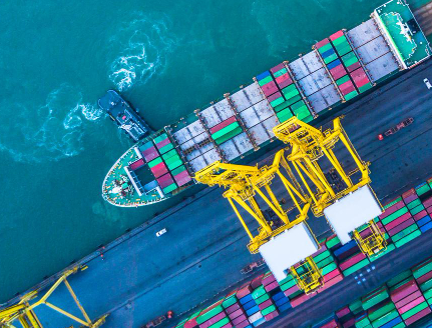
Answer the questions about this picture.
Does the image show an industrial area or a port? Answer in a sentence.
What you see here is a port.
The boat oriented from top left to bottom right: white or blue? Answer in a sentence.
The boat oriented from top left to bottom right is blue.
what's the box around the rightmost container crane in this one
[272,112,391,264]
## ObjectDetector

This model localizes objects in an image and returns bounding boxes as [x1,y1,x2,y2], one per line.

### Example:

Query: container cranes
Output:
[0,270,108,328]
[272,112,391,264]
[198,145,329,299]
